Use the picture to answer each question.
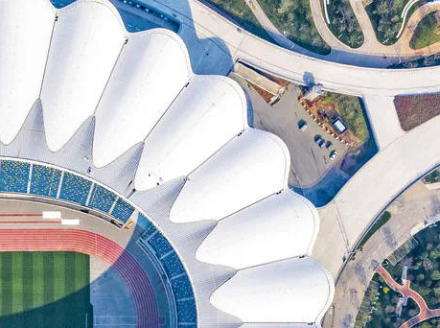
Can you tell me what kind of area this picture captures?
sports ground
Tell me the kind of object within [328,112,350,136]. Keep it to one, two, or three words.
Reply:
building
